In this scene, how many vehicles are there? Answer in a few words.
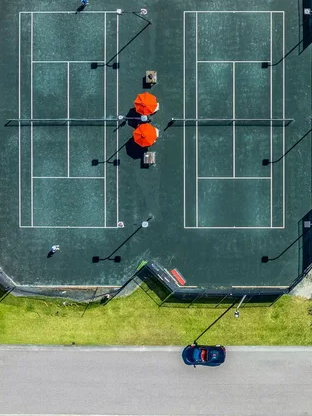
1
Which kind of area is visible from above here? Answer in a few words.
sports ground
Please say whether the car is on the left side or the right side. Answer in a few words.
right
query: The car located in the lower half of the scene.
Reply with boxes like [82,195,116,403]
[185,349,224,370]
